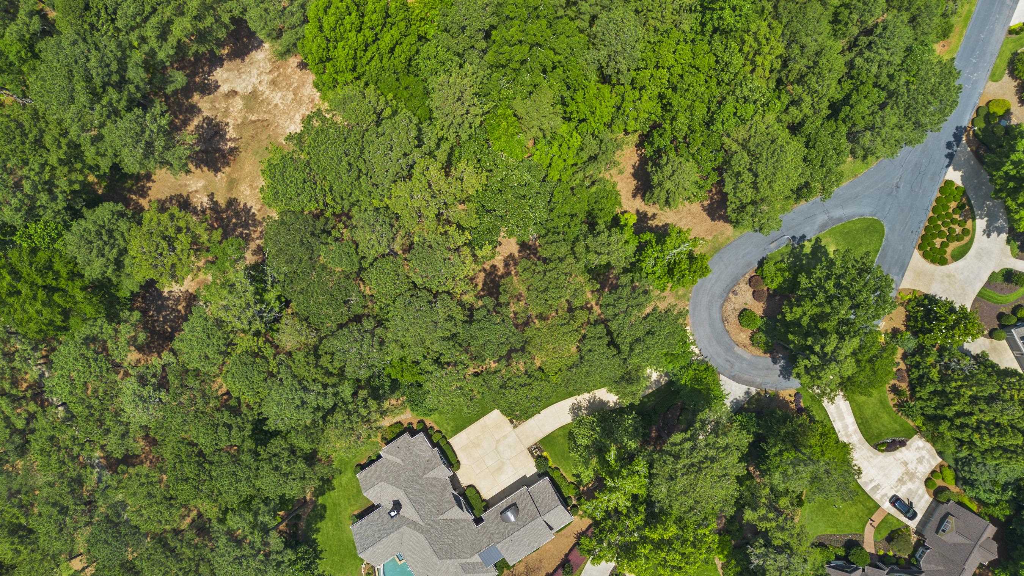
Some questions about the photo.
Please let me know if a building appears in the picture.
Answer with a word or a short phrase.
Yes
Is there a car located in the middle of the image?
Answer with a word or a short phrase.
No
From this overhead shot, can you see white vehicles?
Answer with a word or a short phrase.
No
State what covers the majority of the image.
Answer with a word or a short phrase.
trees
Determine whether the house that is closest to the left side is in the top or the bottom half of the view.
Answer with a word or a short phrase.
bottom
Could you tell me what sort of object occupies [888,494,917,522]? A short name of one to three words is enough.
car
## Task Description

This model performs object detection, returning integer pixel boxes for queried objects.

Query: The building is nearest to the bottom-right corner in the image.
[822,497,998,576]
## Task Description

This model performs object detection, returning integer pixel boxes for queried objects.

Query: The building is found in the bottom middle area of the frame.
[350,431,574,576]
